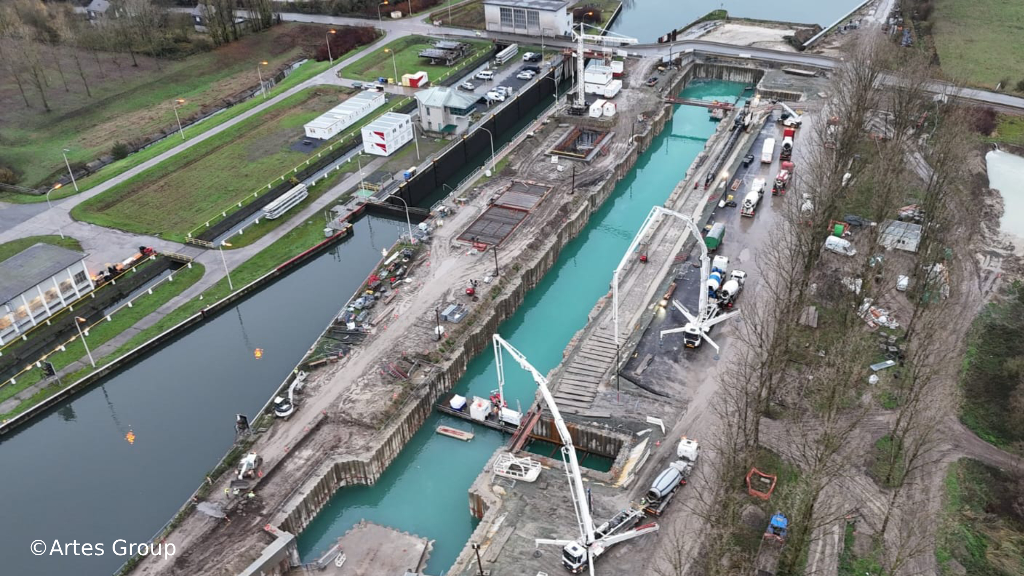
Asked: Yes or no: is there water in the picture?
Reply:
Yes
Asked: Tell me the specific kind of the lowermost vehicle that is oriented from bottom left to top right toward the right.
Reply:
truck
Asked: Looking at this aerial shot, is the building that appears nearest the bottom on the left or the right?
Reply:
left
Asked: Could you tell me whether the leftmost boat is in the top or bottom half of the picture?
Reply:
bottom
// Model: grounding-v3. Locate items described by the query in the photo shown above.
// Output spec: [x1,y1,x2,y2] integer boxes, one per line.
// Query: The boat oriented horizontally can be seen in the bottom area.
[436,423,474,443]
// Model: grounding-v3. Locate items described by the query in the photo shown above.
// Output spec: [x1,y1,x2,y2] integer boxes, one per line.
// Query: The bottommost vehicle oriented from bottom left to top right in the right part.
[644,438,700,512]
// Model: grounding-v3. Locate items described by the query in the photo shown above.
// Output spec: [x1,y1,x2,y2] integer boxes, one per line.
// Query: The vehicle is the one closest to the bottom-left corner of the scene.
[225,452,262,495]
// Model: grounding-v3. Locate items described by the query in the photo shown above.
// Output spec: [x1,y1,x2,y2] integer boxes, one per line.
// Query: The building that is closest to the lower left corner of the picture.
[0,241,98,346]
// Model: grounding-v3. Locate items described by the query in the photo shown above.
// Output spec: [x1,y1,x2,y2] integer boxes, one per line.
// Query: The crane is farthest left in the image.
[562,22,639,116]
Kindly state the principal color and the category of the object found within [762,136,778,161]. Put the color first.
white vehicle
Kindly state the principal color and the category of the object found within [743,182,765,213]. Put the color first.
white truck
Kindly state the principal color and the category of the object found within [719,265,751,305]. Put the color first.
white truck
